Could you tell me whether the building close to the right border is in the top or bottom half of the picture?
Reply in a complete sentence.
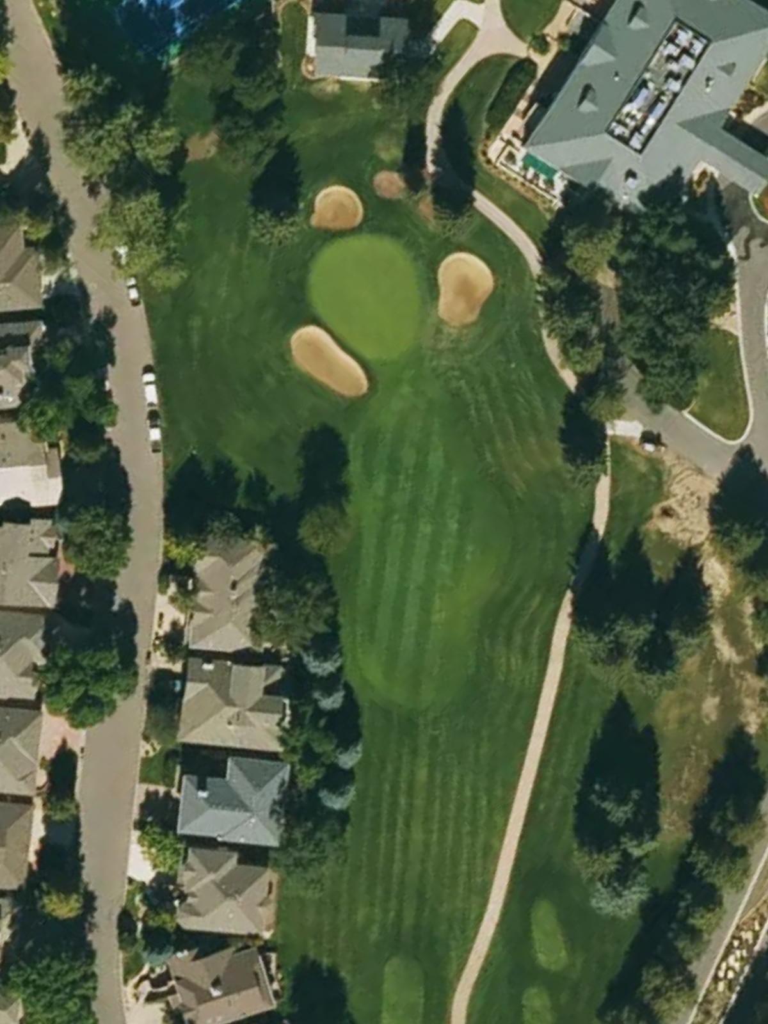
The building close to the right border sits in the top half of the picture.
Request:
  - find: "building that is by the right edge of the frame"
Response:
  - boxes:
[524,0,768,229]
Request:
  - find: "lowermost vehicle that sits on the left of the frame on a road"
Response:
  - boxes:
[147,420,162,453]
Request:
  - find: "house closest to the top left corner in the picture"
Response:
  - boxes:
[0,225,41,310]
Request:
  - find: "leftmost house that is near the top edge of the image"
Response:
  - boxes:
[313,12,410,77]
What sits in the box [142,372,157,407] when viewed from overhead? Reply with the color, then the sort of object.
white vehicle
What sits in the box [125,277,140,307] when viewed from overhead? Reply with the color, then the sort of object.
white car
